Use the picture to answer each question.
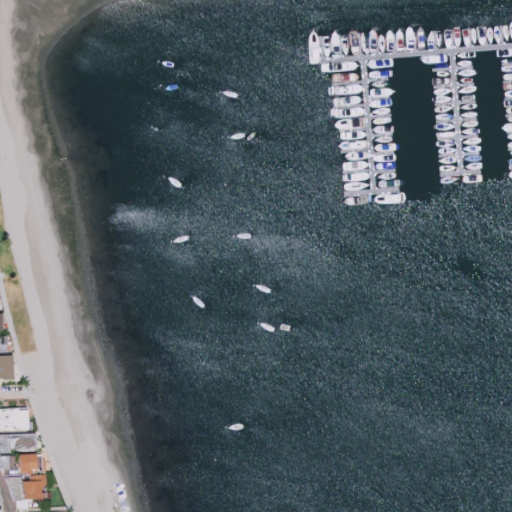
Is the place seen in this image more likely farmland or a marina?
marina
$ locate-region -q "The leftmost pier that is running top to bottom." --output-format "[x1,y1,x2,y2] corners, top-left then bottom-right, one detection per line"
[333,60,396,190]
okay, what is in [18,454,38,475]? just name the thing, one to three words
house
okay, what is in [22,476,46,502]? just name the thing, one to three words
house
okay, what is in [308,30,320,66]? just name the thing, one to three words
boat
